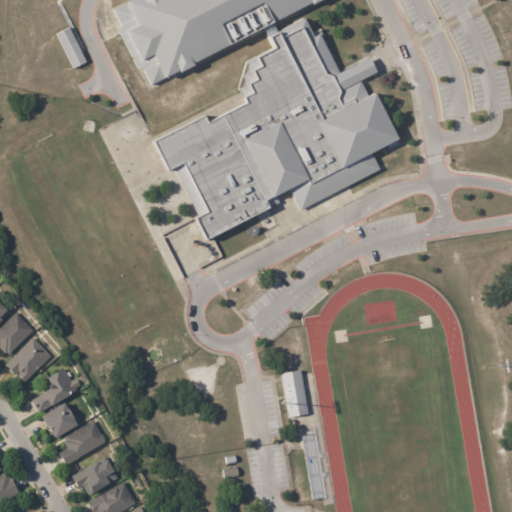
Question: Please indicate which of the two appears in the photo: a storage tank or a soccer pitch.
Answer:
soccer pitch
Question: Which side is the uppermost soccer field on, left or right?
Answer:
left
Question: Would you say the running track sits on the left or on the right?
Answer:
right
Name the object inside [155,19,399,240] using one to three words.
building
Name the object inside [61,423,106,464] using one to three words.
house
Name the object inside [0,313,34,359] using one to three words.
house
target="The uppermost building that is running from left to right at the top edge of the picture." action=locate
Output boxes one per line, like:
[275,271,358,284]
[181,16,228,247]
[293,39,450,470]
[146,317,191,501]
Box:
[113,0,322,84]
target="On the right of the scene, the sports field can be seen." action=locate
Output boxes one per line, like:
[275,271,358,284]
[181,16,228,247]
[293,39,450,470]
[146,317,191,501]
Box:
[326,288,475,512]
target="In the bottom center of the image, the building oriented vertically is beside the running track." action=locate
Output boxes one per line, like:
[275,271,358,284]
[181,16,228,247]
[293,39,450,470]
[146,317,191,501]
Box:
[282,370,309,418]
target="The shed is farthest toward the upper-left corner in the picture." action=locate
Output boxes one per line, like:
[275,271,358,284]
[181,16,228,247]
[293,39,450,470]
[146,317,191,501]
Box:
[58,28,86,68]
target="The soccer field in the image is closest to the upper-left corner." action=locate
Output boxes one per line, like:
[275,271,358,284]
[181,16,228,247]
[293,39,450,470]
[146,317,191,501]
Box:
[20,128,170,346]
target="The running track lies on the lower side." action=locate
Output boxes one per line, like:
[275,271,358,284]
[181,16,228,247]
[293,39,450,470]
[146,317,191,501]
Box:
[304,272,492,512]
